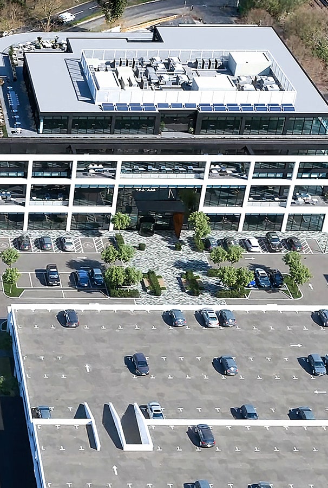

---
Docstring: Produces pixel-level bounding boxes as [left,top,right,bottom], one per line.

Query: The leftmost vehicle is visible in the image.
[17,232,31,250]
